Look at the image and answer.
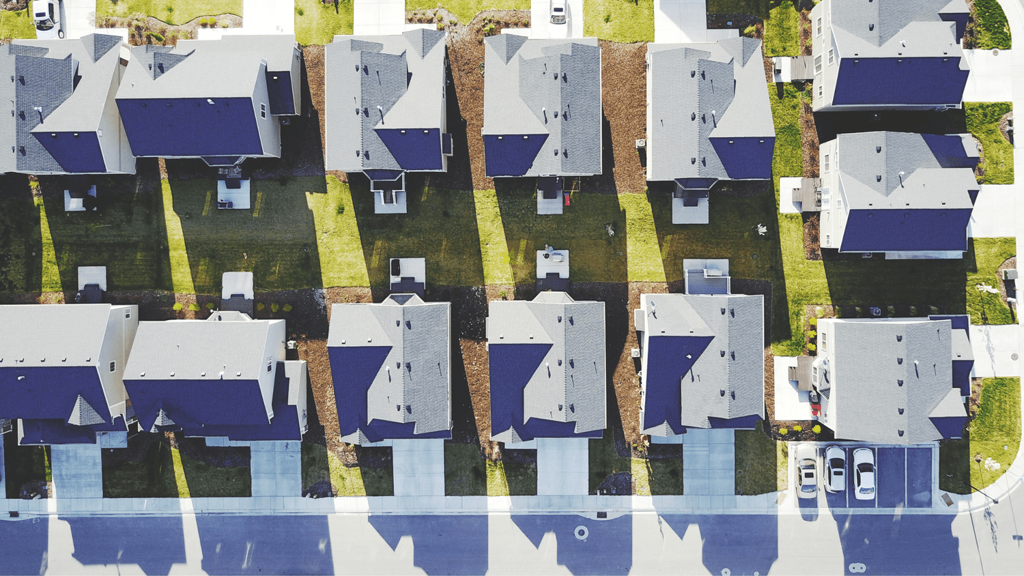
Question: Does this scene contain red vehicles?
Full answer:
No, there isn't any red vehicle down there.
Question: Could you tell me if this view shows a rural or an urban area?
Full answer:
The land in this view is best described as urban.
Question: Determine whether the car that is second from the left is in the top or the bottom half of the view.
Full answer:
Seen from above, the car that is second from the left lies in the top half of the view.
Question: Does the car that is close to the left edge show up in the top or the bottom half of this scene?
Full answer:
The car that is close to the left edge is in the top half of the image.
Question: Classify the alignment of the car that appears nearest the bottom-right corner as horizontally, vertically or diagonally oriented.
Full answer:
What the image shows is the car that appears nearest the bottom-right corner lying vertically.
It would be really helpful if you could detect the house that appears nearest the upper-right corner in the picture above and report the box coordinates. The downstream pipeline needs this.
[812,0,970,111]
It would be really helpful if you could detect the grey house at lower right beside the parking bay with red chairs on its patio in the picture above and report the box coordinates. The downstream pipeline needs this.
[812,314,974,446]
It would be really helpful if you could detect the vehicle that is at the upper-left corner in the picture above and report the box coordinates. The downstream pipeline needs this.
[32,0,61,37]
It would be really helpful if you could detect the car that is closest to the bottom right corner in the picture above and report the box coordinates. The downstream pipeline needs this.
[853,448,879,500]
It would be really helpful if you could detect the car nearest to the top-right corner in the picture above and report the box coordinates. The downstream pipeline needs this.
[546,0,571,38]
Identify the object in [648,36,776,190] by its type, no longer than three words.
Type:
house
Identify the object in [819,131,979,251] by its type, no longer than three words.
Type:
house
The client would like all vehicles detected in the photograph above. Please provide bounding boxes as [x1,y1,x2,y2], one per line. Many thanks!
[825,446,850,493]
[546,0,571,38]
[853,448,879,500]
[32,0,61,37]
[796,445,822,498]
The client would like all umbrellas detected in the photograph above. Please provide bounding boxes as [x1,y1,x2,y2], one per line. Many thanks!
[82,195,106,211]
